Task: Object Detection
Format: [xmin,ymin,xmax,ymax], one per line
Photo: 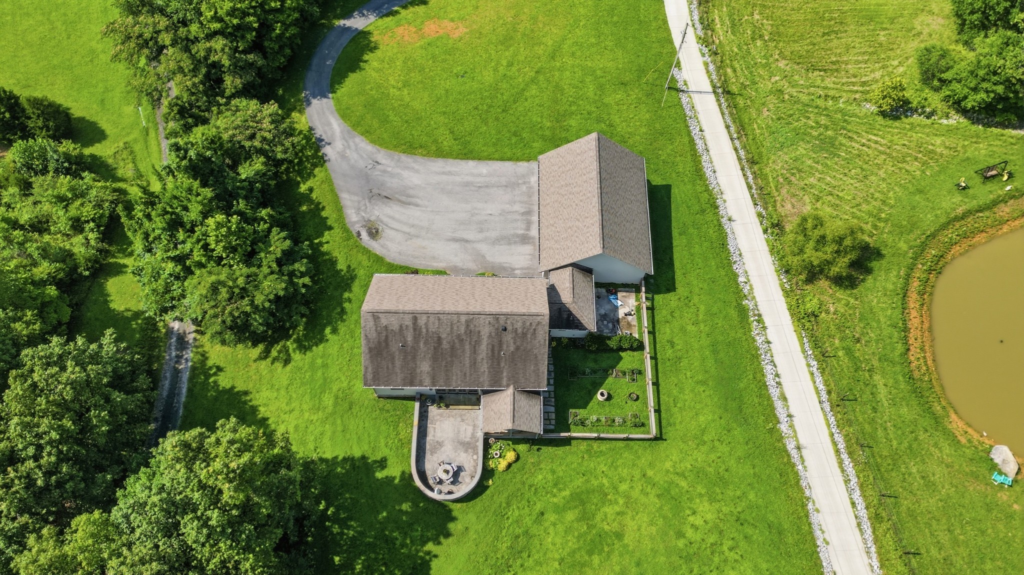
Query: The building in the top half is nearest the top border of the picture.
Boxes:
[537,132,655,284]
